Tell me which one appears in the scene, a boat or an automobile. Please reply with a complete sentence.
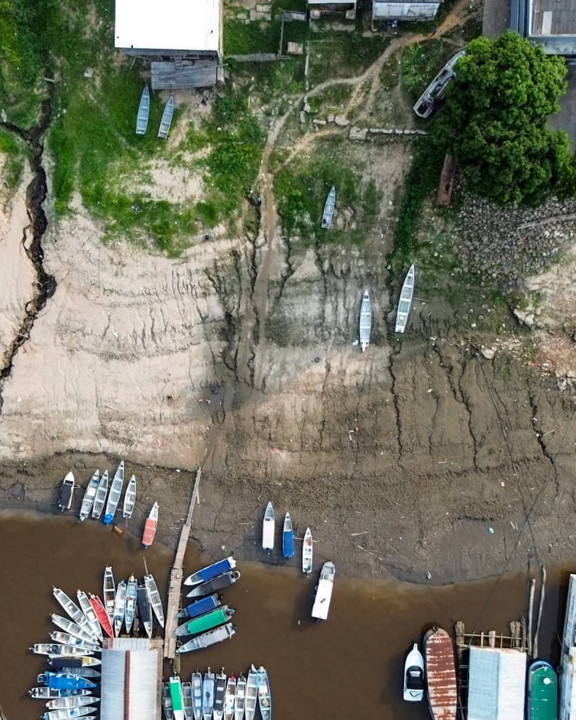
Of the two, only a boat appears.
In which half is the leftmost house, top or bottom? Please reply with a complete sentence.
The leftmost house is in the bottom half of the image.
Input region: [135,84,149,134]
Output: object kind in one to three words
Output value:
boat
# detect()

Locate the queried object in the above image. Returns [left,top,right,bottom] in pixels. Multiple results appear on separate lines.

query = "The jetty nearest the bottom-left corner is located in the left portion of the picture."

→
[163,583,182,658]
